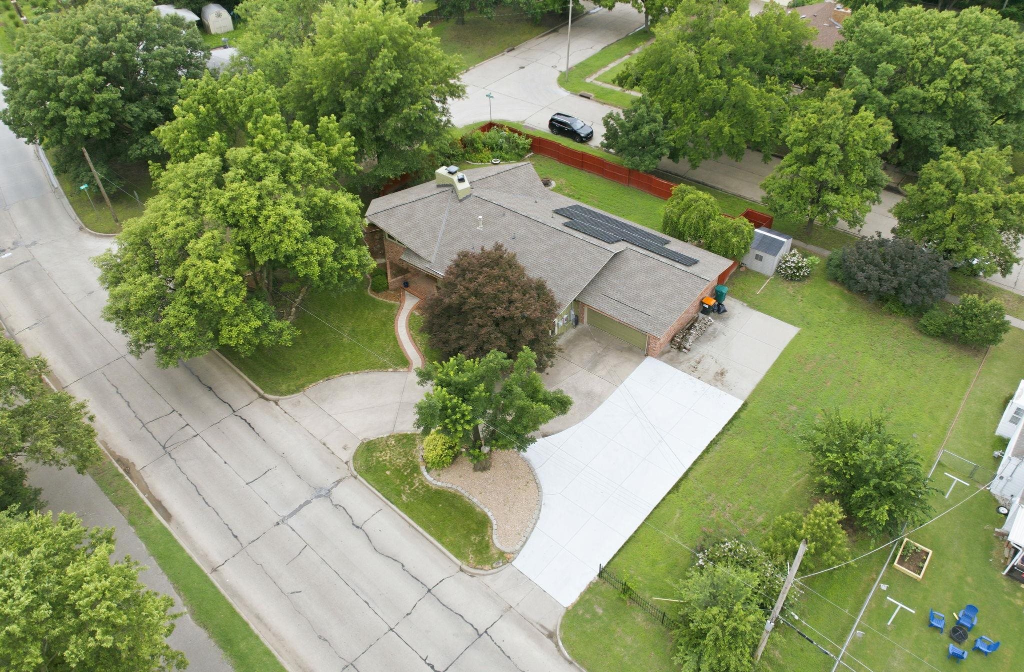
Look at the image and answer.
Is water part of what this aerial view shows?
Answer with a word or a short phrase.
No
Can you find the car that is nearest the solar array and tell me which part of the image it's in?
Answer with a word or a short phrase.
top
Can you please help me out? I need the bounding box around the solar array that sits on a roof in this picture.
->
[552,204,702,266]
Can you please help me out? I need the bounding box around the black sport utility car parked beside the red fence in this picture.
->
[550,114,593,141]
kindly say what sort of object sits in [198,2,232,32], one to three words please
shed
